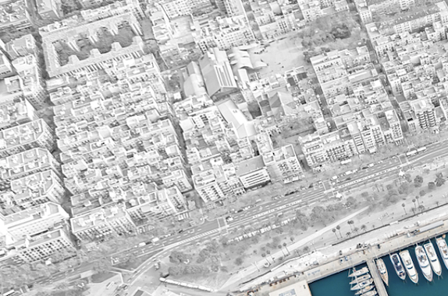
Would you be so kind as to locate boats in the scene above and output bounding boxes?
[424,231,441,274]
[348,264,368,278]
[415,237,433,286]
[349,268,371,285]
[376,257,388,286]
[355,279,374,296]
[350,273,373,291]
[400,237,418,289]
[389,244,404,279]
[356,286,377,296]
[435,228,448,268]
